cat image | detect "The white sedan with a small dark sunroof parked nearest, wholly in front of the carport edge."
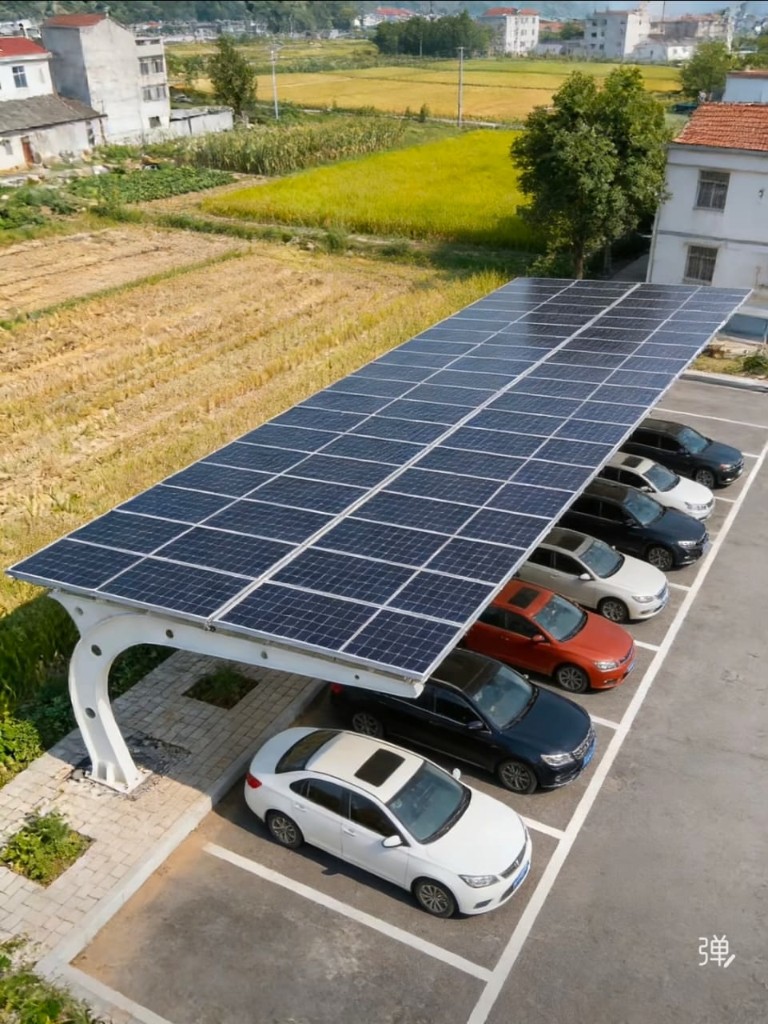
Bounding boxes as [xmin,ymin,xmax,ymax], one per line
[248,732,530,917]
